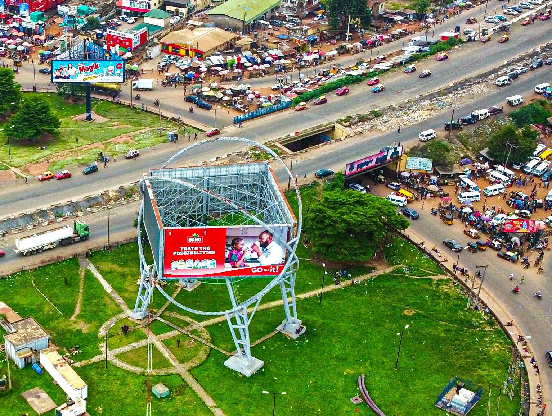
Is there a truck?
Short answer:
Yes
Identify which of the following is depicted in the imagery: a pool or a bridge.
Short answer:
bridge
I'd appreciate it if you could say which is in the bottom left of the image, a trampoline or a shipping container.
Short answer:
shipping container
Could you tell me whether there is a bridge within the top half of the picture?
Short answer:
Yes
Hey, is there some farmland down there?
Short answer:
No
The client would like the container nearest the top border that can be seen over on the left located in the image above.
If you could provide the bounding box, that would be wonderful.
[46,341,89,396]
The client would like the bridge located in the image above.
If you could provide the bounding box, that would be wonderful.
[220,98,432,193]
